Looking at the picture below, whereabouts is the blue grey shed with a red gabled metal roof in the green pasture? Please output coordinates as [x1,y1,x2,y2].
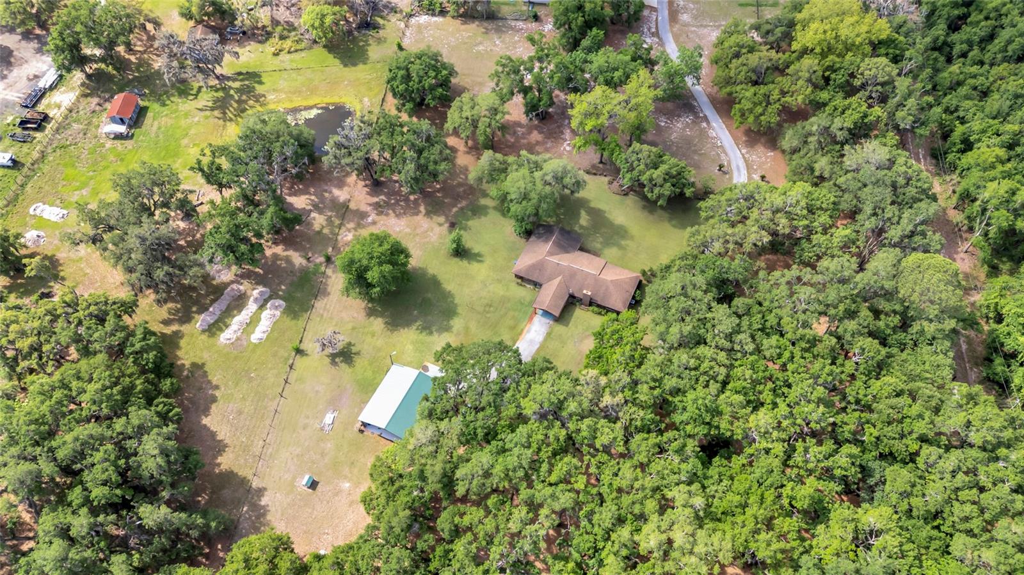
[104,90,143,132]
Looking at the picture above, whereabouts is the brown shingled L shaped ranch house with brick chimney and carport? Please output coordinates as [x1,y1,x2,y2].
[511,225,641,324]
